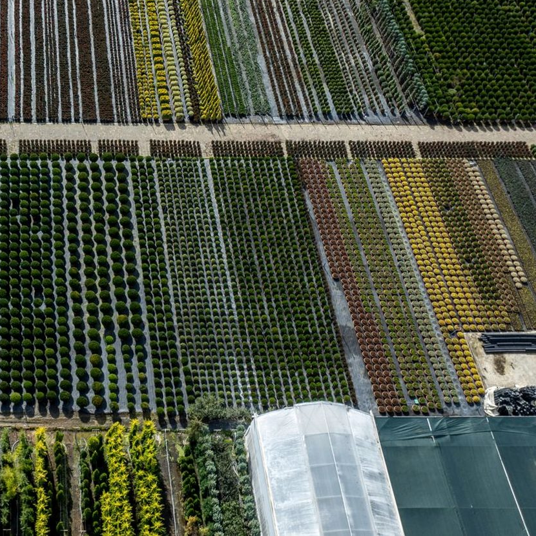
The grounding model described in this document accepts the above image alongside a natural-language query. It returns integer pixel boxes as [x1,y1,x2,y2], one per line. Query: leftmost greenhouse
[242,408,403,536]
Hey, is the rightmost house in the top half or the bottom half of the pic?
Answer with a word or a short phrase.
bottom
